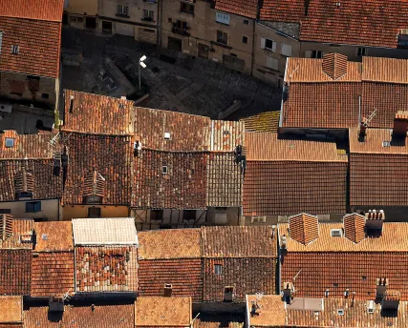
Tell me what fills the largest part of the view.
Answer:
buildings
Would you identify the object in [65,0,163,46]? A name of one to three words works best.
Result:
house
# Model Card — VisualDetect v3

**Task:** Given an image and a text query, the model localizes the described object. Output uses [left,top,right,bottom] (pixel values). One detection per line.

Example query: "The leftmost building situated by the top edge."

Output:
[0,0,64,115]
